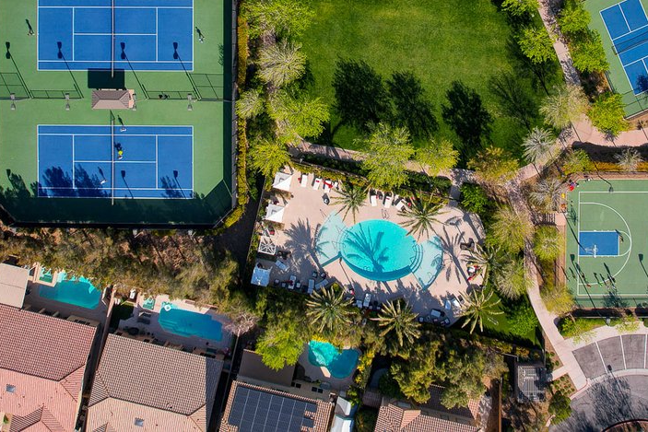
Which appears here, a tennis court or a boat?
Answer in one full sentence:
Looking from above, you can make out a tennis court.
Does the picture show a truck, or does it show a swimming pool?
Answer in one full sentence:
It is a swimming pool that can be seen here.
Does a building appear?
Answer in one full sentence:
Yes, you can see a building in this photo.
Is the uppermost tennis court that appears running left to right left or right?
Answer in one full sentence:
The uppermost tennis court that appears running left to right sits on the left side.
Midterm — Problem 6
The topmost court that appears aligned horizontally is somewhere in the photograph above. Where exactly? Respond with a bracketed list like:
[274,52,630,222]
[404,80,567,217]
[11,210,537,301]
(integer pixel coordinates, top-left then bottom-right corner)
[0,0,235,98]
